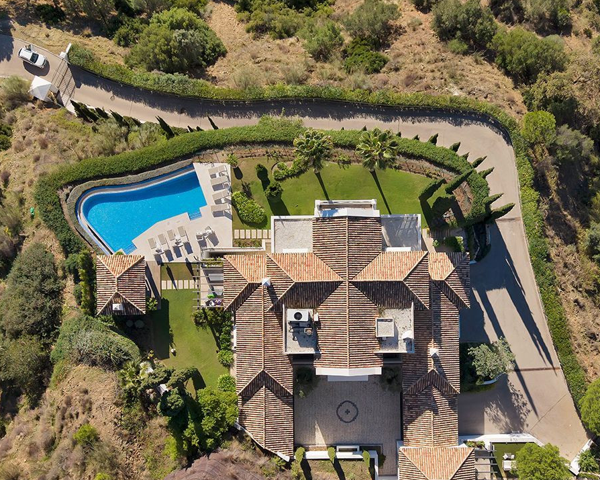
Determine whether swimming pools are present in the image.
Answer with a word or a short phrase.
Yes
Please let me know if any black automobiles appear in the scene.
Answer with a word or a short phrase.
No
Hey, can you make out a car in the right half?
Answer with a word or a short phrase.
No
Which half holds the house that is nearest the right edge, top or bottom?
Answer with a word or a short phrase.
bottom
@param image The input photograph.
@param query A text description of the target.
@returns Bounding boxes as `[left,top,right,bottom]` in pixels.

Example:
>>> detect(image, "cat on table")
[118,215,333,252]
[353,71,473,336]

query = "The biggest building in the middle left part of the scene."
[95,254,149,316]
